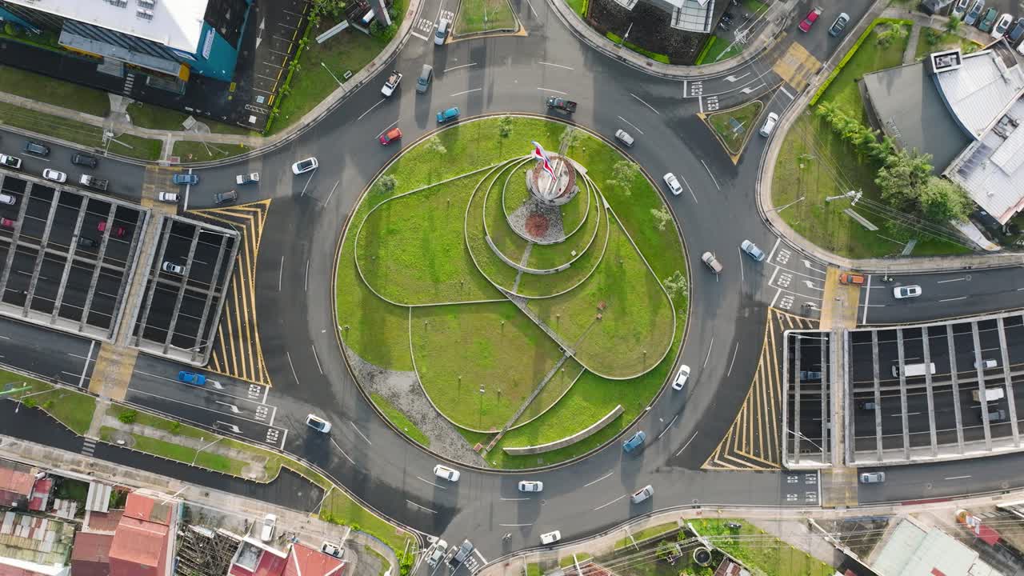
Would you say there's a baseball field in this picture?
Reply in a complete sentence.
No, there appears to be no baseball field in this shot.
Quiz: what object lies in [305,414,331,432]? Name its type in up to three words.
car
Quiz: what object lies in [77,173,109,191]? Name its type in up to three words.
vehicle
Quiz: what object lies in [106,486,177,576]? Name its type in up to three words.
house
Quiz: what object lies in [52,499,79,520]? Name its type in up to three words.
shed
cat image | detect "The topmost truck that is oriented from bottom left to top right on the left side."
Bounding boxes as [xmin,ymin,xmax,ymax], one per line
[378,67,403,98]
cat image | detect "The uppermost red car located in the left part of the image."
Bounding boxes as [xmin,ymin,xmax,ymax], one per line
[378,128,401,144]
